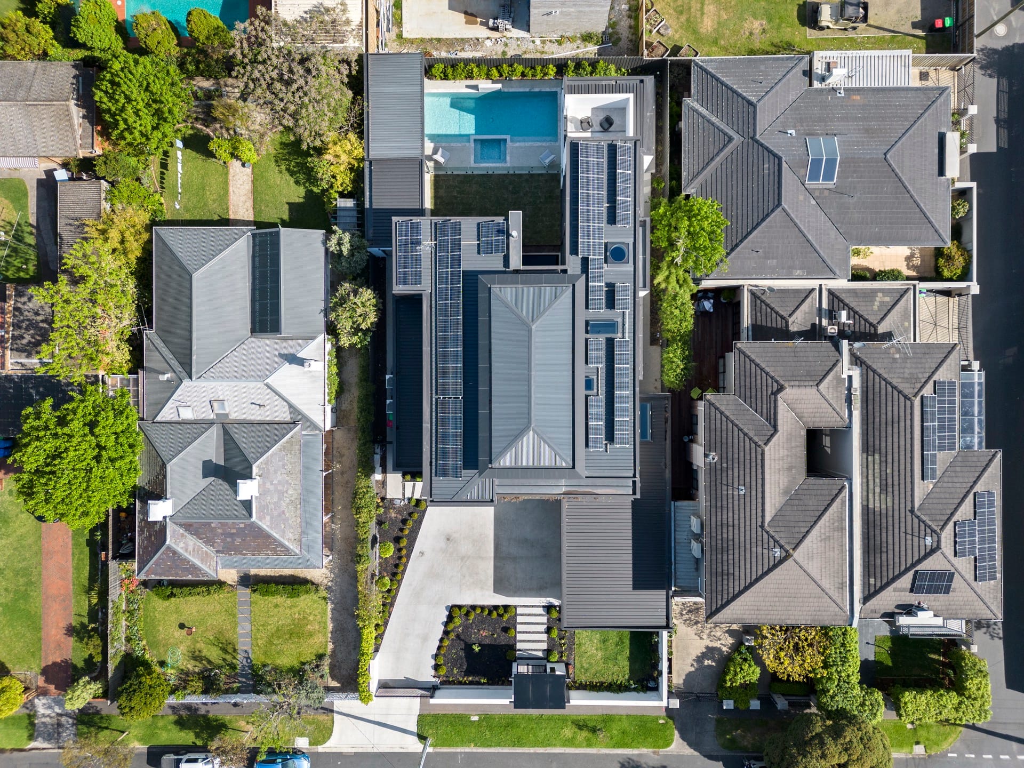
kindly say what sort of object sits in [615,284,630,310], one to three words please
solar panel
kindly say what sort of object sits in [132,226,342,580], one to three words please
house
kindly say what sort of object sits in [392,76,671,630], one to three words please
house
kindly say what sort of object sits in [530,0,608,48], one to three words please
shed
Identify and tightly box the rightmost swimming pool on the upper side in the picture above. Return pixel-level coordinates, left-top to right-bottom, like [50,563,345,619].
[425,87,561,168]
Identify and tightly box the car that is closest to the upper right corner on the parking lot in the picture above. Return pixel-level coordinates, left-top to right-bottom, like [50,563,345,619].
[813,0,866,33]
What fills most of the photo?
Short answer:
buildings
